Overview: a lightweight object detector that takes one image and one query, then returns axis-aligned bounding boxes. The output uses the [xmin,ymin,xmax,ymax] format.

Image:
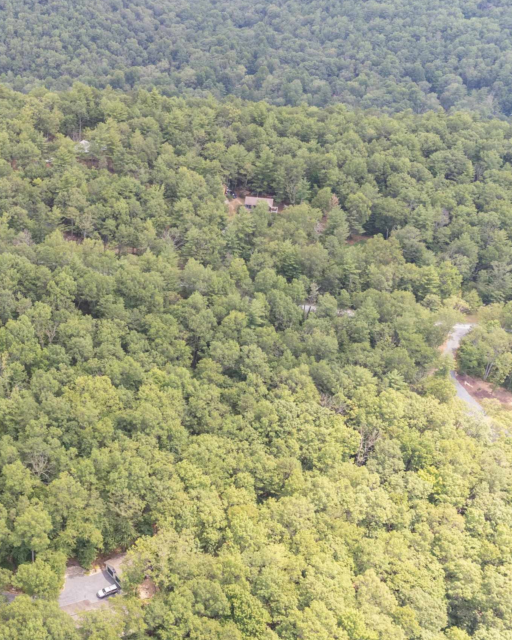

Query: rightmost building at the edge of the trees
[246,196,280,214]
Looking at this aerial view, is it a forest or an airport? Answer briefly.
forest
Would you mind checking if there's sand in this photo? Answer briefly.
No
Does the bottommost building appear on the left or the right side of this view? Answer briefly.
left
